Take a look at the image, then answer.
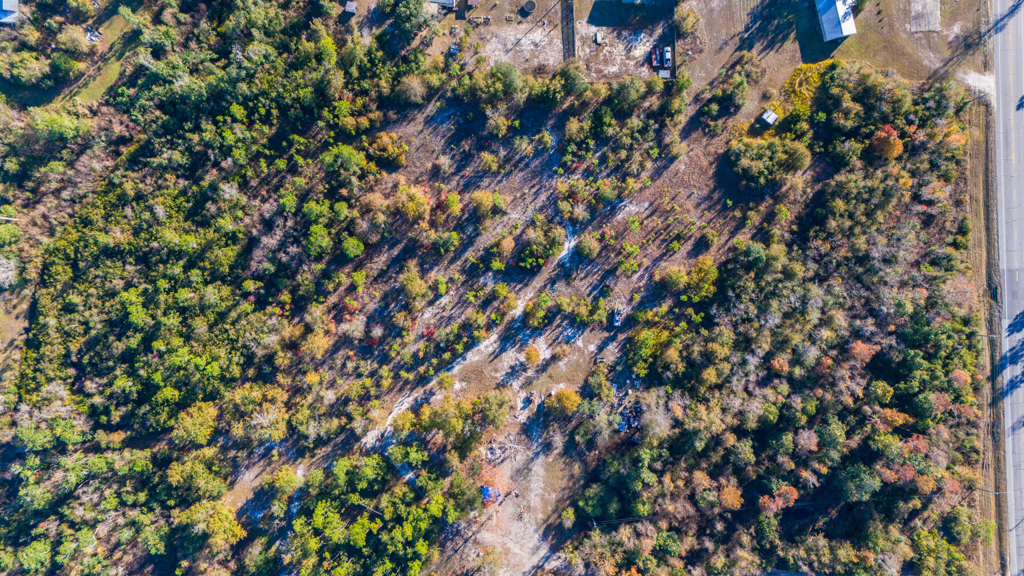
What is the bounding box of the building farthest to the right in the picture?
[811,0,857,44]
